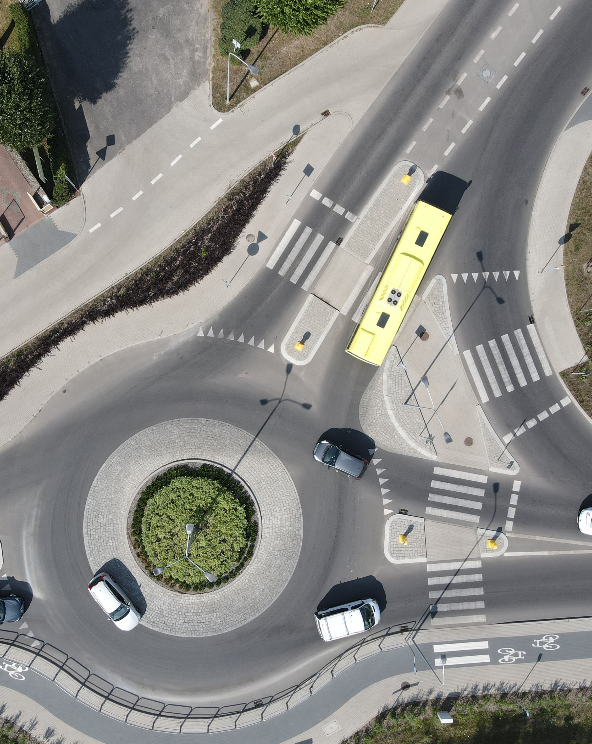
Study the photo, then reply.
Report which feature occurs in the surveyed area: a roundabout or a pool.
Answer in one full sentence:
The one in the frame is a roundabout.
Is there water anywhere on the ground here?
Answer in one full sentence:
No, there's no water in this view.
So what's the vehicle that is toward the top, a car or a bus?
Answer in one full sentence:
It looks like the vehicle that is toward the top is a bus.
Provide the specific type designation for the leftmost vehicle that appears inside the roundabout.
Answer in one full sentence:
I'd identify the leftmost vehicle that appears inside the roundabout as a car.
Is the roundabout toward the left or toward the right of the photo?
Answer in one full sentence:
The roundabout is on the left side of the image.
